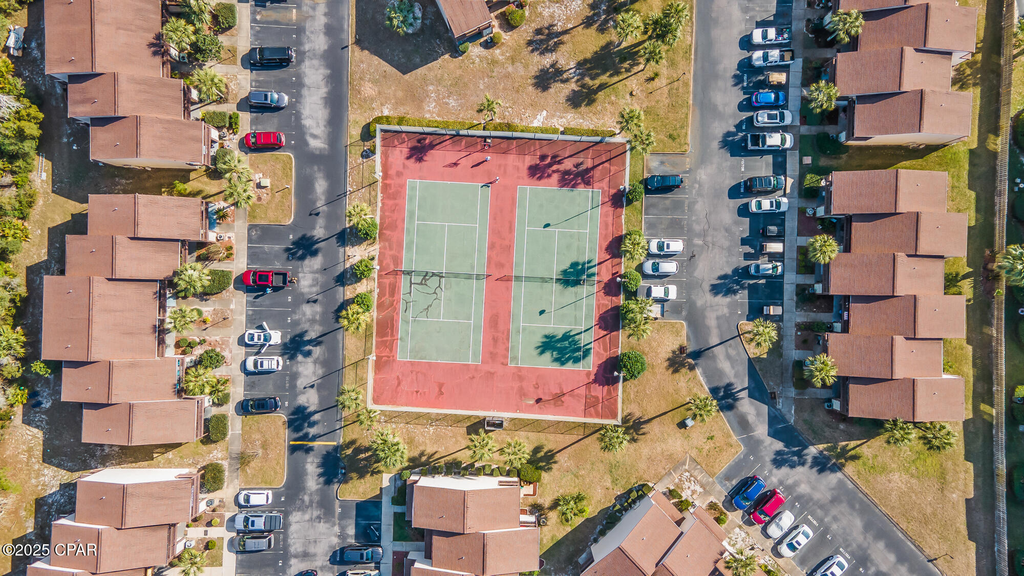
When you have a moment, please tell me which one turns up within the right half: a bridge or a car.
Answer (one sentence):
The one visible within the right half is a car.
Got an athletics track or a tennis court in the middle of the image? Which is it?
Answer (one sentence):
Looking in the middle of the image, you will find a tennis court.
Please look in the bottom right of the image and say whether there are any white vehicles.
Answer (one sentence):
Yes, you'll find a white vehicle in the bottom right of the image.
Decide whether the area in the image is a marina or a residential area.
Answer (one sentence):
The picture captures a residential area.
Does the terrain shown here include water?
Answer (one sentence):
No, water can't be seen anywhere here.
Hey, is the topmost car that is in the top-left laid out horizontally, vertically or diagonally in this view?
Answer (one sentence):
The topmost car that is in the top-left is oriented horizontally.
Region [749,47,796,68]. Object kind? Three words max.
truck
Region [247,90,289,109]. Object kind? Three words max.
car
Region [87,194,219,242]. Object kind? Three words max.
house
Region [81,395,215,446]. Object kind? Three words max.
house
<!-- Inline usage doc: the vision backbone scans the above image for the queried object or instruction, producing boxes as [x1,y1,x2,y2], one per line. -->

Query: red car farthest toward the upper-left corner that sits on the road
[245,130,286,149]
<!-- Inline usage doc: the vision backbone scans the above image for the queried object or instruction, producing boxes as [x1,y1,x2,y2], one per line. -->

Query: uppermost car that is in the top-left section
[249,45,295,66]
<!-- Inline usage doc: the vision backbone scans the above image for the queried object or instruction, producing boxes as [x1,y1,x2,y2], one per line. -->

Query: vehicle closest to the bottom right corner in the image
[814,551,846,576]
